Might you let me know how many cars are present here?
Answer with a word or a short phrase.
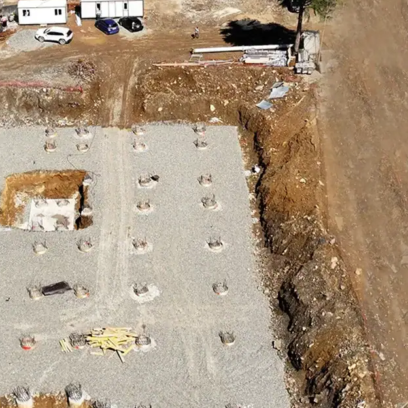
3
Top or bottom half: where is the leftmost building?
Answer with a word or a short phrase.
top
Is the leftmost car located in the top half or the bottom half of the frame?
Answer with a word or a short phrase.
top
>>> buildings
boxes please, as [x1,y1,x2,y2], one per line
[81,0,144,18]
[18,0,67,24]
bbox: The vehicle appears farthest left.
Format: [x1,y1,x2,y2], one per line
[33,23,74,43]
